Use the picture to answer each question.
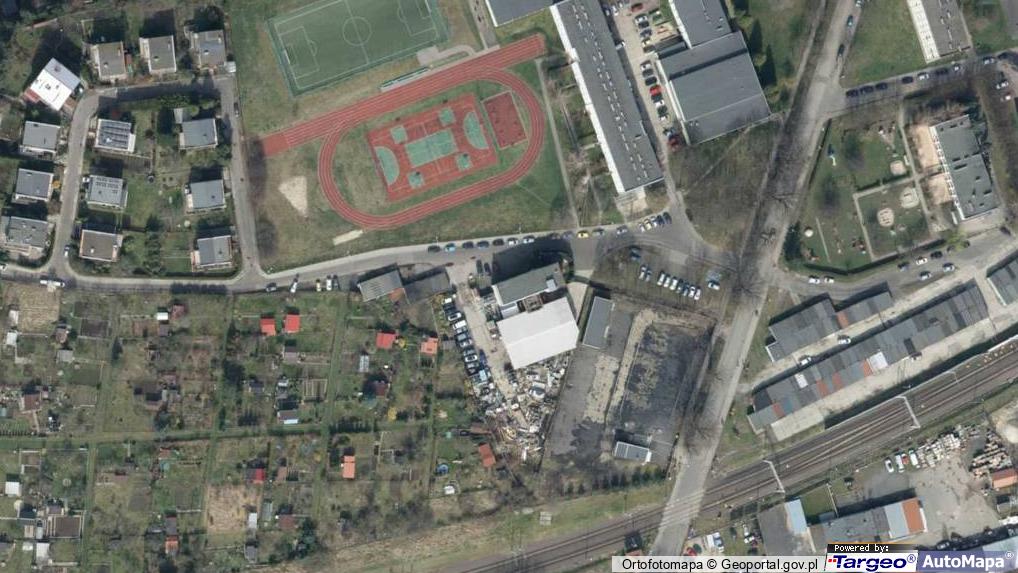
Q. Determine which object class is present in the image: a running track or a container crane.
running track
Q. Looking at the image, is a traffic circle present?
No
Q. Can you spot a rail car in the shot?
No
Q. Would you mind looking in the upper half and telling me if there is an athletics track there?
Yes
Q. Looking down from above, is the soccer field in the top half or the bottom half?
top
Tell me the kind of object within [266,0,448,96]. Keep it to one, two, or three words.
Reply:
soccer field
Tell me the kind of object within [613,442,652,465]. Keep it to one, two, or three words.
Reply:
shed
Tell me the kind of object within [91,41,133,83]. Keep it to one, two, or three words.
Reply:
house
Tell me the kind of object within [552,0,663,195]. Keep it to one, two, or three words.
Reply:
building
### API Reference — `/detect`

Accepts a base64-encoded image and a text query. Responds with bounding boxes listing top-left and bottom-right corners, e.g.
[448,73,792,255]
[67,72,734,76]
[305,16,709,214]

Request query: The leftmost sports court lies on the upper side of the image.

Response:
[368,92,499,202]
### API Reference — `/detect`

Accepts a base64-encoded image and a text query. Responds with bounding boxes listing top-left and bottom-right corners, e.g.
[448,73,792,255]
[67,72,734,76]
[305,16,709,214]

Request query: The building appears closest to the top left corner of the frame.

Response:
[25,58,81,111]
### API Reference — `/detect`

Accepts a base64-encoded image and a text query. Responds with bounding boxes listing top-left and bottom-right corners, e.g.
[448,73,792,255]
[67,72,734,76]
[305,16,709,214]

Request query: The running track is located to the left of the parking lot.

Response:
[261,35,551,226]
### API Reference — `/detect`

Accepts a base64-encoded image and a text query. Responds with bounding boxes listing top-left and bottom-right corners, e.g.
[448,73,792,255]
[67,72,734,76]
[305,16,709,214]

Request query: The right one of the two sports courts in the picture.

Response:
[480,91,527,150]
